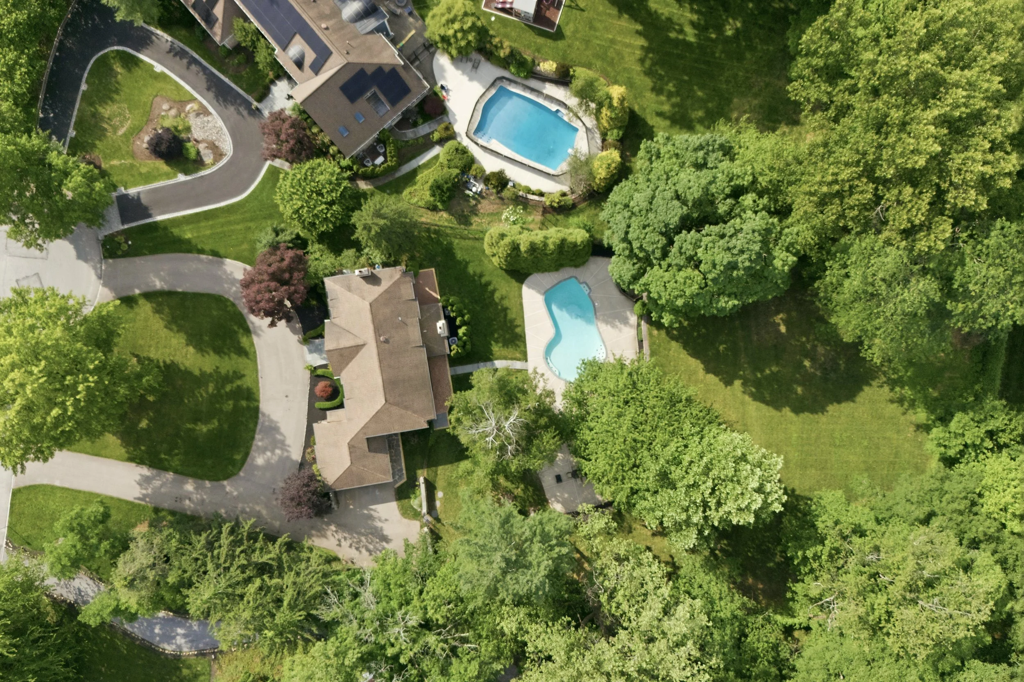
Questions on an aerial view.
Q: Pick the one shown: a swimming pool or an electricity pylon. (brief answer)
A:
swimming pool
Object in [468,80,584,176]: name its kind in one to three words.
swimming pool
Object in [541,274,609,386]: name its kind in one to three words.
swimming pool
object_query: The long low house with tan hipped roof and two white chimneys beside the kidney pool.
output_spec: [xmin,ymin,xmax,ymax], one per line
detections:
[313,266,450,492]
